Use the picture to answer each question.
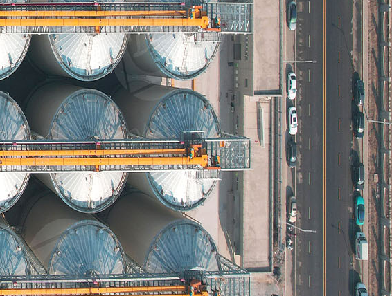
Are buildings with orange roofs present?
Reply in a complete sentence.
No, the frame has no building with an orange roof in it.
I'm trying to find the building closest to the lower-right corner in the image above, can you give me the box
[232,93,272,273]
